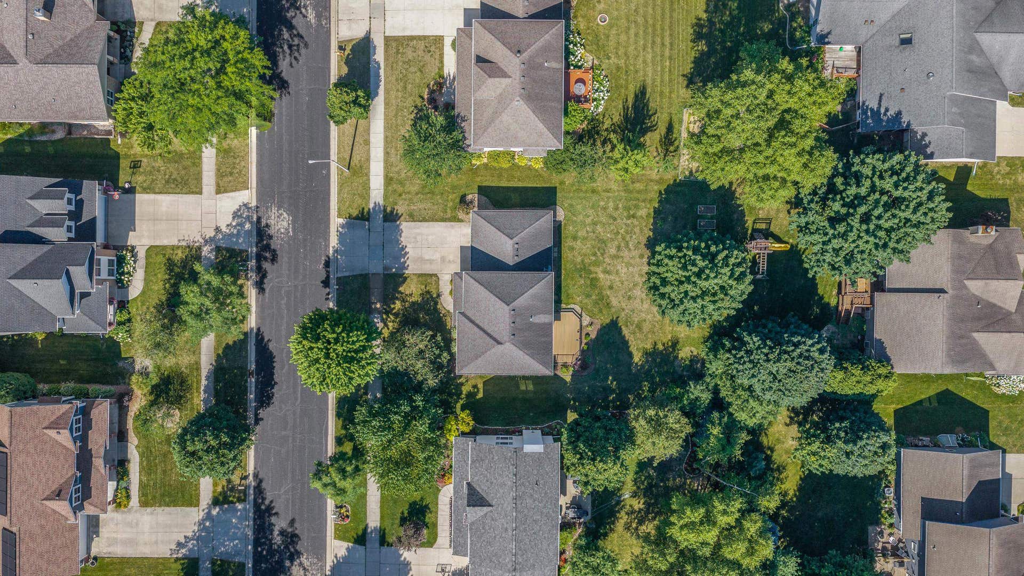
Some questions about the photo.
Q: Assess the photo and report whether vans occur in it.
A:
No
